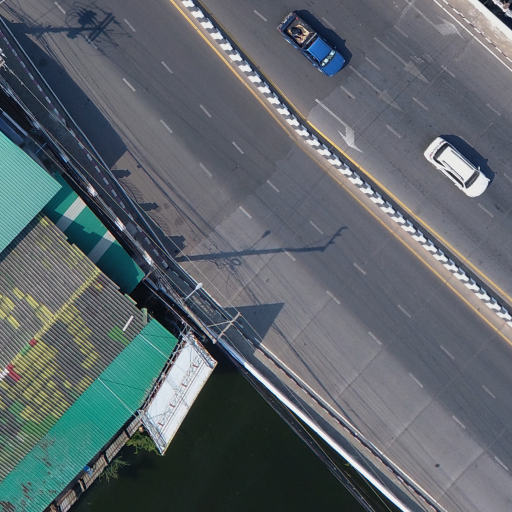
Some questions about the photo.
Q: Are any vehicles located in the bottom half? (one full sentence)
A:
No, there's no vehicle to be seen in the bottom half.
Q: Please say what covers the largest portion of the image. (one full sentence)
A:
The largest share of the image is taken up by paved ground.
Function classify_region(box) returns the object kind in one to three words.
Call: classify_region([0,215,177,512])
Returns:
building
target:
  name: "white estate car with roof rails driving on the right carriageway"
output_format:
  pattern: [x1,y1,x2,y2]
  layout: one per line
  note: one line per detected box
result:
[422,137,488,196]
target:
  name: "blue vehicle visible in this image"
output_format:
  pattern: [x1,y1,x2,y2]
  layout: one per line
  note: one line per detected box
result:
[275,12,344,75]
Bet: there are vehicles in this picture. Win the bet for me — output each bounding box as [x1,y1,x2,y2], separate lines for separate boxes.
[422,137,488,196]
[275,12,344,75]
